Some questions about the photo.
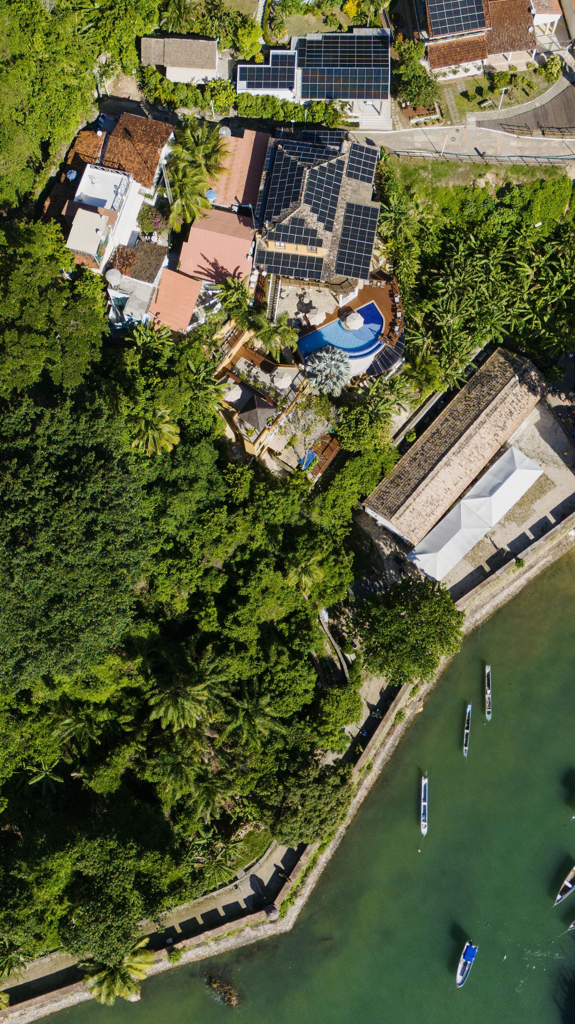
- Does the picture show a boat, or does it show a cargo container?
boat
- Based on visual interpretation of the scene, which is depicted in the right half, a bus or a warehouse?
warehouse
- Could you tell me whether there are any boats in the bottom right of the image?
Yes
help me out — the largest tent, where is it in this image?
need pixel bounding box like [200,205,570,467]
[405,446,543,578]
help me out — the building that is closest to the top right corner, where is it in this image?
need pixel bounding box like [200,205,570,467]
[420,0,575,79]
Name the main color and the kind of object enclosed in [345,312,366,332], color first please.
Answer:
white umbrella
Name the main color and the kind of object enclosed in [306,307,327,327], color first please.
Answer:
white umbrella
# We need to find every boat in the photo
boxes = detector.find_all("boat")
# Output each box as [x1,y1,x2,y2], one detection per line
[554,857,575,906]
[486,666,492,721]
[421,770,428,836]
[464,705,472,757]
[567,916,575,931]
[454,940,480,988]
